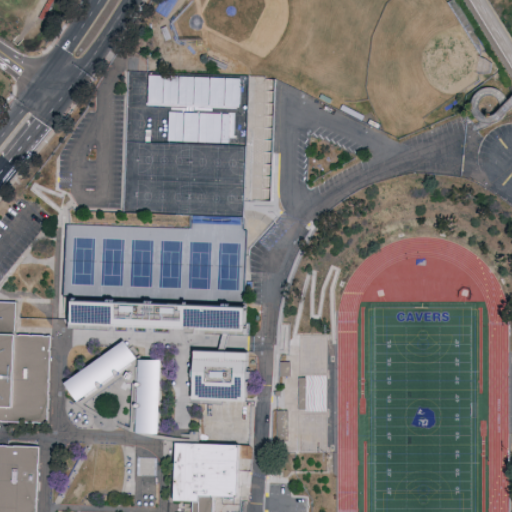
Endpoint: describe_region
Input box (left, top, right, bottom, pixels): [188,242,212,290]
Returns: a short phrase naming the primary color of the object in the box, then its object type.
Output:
blue tennis court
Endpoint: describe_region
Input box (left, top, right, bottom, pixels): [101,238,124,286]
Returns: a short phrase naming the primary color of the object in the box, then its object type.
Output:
blue tennis court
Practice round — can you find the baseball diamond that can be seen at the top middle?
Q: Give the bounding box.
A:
[176,0,288,58]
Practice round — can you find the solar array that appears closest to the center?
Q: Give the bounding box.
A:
[184,310,238,328]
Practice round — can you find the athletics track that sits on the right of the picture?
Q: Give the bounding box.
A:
[338,236,508,512]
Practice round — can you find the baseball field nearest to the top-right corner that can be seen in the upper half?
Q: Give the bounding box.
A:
[422,28,492,94]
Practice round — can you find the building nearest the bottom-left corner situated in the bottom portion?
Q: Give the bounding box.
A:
[0,446,40,512]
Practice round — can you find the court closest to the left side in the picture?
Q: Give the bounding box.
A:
[72,238,96,285]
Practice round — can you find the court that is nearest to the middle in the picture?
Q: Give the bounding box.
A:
[218,242,240,290]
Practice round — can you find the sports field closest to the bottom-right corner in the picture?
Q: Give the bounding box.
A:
[358,302,488,512]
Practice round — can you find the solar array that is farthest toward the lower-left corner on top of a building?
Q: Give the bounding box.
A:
[72,306,110,324]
